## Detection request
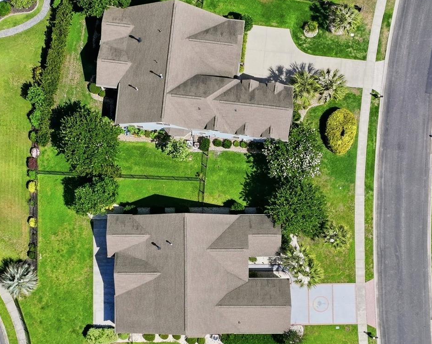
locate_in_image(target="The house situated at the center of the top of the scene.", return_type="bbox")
[96,0,294,141]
